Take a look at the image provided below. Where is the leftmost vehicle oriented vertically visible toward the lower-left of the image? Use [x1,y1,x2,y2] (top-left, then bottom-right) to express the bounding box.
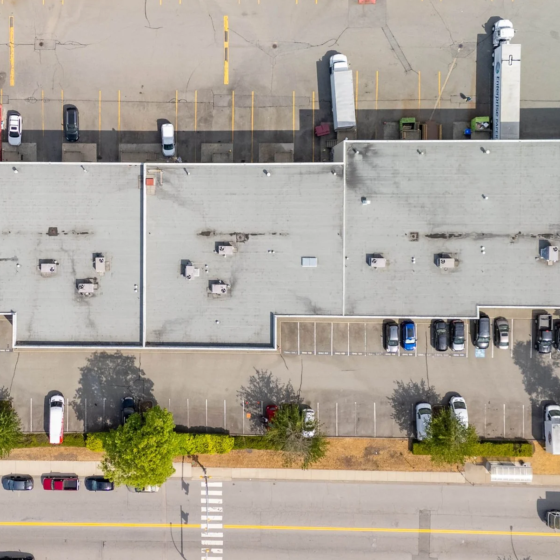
[50,396,67,443]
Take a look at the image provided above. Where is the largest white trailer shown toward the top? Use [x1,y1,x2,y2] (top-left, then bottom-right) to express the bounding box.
[491,44,520,139]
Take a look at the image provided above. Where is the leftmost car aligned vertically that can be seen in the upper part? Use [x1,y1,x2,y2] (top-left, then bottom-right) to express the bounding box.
[7,112,24,149]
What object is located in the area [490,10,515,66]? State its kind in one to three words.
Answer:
truck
